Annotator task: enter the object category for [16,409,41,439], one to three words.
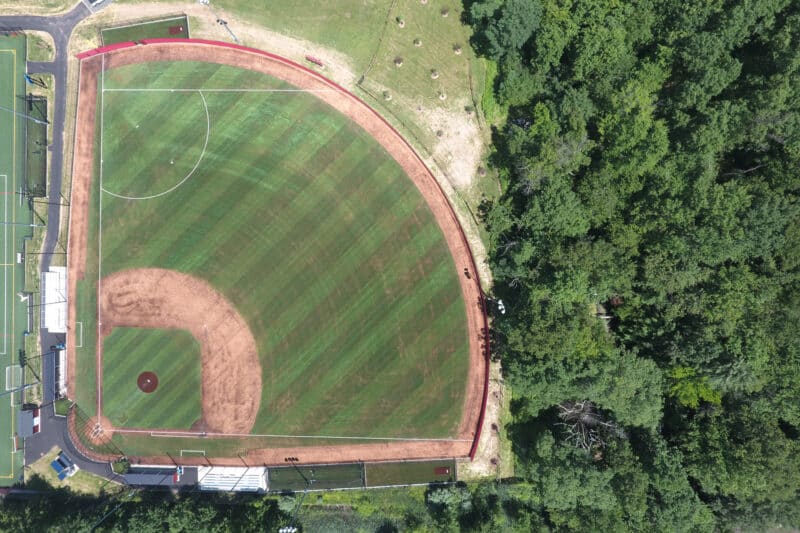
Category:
building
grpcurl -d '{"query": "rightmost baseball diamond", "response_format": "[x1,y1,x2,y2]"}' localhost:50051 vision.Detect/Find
[66,43,488,467]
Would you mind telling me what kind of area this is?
sports ground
